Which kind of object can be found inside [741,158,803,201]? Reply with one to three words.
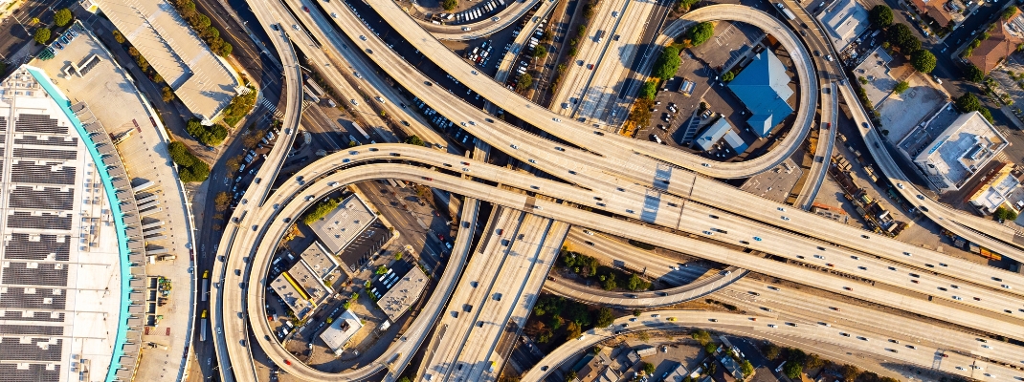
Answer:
building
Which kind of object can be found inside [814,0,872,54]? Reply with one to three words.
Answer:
building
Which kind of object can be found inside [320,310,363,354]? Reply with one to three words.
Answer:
shed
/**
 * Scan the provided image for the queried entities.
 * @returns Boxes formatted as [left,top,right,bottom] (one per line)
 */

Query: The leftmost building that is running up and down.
[0,60,137,382]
